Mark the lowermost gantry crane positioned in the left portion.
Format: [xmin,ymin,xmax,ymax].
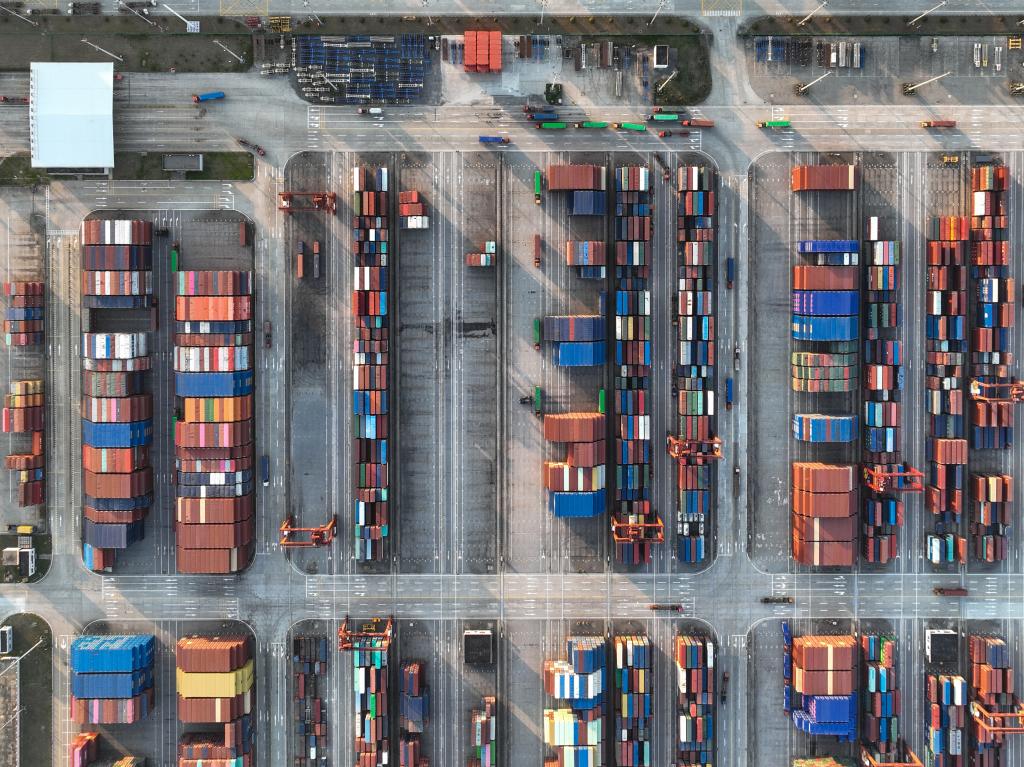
[335,615,396,651]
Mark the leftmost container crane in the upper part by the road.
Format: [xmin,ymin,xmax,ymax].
[277,191,339,216]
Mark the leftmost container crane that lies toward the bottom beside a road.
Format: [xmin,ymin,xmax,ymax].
[276,514,338,546]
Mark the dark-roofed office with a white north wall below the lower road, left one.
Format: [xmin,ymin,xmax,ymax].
[464,629,492,663]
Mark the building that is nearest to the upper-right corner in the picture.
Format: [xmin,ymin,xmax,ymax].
[652,45,668,69]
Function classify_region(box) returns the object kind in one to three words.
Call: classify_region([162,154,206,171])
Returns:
building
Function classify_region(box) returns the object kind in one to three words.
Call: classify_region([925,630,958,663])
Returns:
building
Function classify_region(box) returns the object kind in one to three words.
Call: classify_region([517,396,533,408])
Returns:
vehicle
